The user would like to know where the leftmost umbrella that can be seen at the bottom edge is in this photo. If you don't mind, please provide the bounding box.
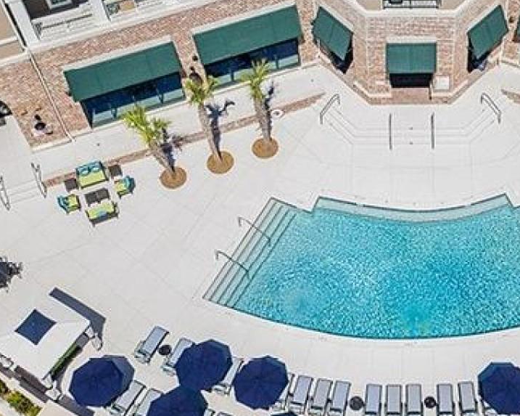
[74,355,135,411]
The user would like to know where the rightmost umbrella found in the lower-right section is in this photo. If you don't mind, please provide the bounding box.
[477,365,520,415]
